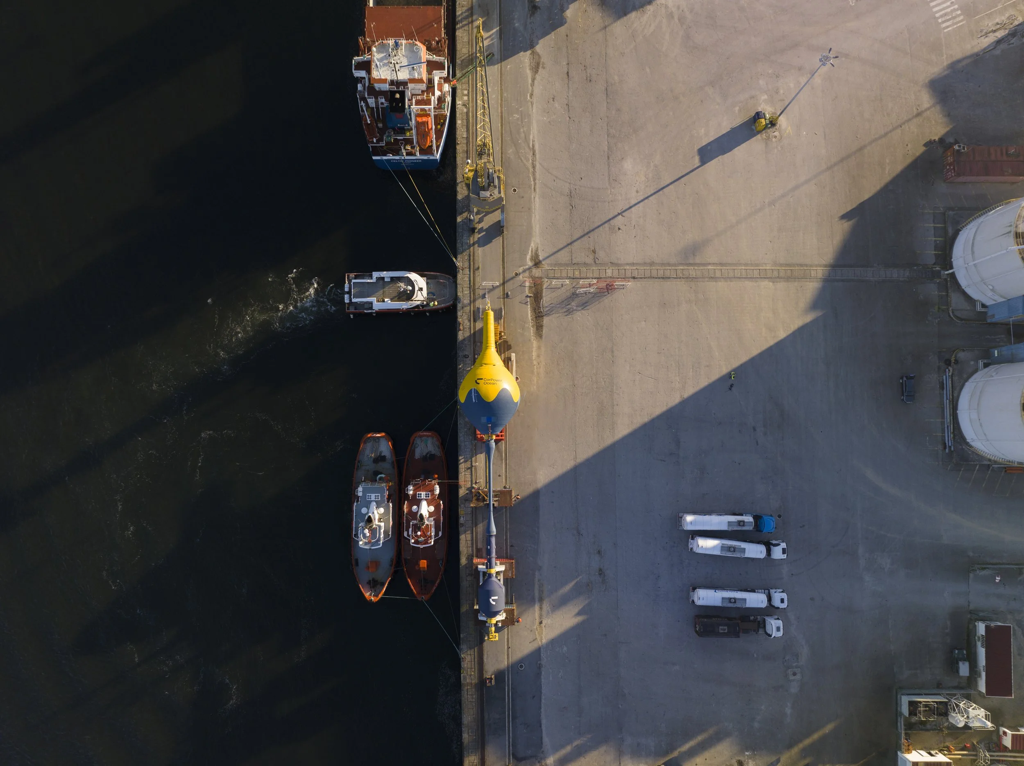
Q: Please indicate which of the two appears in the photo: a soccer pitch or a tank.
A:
tank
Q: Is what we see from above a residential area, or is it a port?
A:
port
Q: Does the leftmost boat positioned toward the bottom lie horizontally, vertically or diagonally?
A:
vertically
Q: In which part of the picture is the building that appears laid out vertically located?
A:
bottom right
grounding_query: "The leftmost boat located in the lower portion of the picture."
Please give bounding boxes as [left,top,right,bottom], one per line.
[352,432,400,603]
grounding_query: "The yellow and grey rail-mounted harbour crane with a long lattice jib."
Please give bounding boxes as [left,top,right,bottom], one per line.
[464,12,507,235]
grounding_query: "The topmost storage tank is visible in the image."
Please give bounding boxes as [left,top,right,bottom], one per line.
[945,189,1024,304]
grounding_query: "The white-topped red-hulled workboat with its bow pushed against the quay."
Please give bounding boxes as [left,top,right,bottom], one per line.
[345,271,455,316]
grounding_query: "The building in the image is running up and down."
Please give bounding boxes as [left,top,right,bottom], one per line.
[976,622,1015,698]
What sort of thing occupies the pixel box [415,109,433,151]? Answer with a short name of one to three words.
boat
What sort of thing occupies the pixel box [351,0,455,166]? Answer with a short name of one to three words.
ship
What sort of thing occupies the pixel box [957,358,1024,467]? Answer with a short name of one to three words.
storage tank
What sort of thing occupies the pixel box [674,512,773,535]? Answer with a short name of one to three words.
truck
